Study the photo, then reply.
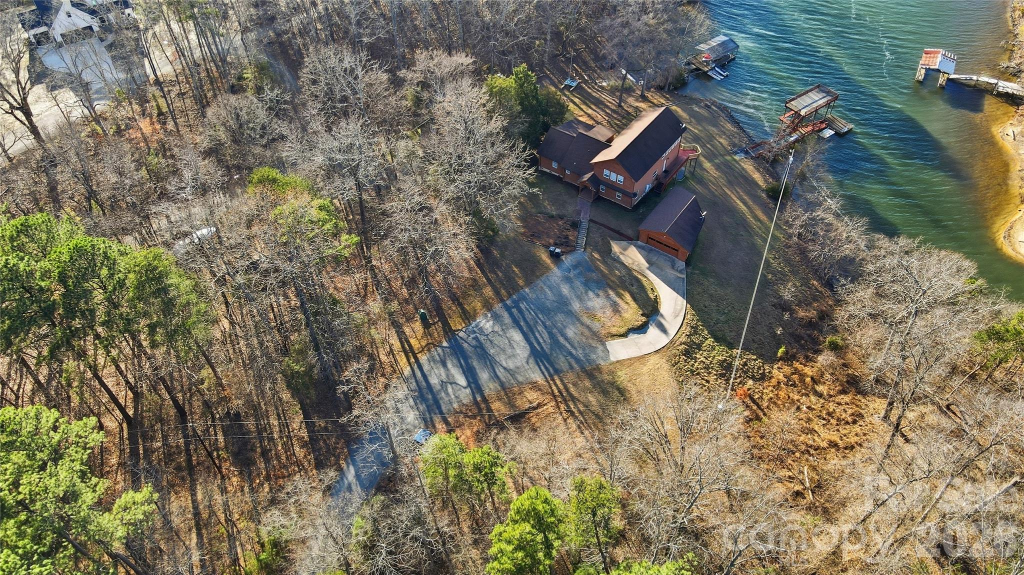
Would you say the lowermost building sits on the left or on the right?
right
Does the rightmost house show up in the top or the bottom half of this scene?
top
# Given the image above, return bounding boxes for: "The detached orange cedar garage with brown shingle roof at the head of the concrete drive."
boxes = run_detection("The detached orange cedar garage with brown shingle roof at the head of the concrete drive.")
[638,192,721,263]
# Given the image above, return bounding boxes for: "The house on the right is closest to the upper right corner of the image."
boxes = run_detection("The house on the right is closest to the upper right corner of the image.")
[915,48,958,87]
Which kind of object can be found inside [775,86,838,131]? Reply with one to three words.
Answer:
pier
